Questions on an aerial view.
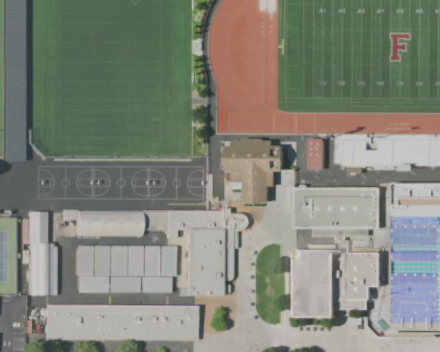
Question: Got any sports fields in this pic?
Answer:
Yes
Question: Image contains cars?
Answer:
No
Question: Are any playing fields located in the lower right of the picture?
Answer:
No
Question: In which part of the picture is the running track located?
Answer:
top right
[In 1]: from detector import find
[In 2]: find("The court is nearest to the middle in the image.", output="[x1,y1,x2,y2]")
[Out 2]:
[149,163,204,203]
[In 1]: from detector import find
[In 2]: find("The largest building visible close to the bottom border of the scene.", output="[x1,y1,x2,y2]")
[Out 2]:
[46,305,200,340]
